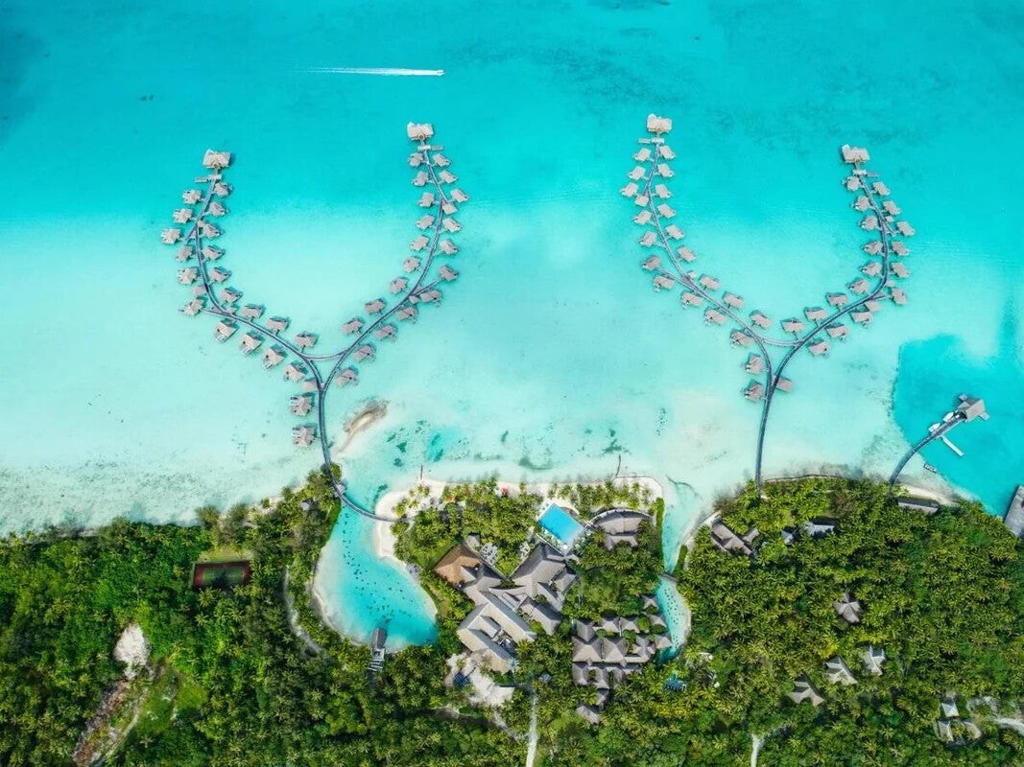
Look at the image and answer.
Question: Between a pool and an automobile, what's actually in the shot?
pool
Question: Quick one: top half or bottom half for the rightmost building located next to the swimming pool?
bottom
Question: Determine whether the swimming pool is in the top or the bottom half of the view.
bottom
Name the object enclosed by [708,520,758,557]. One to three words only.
house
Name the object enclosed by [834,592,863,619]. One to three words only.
house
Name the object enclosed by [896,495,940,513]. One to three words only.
shed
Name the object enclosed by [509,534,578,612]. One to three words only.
building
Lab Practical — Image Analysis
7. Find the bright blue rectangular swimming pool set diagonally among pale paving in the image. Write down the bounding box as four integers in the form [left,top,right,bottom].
[534,499,591,553]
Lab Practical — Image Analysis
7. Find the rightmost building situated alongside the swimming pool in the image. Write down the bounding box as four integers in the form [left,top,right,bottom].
[586,509,655,550]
